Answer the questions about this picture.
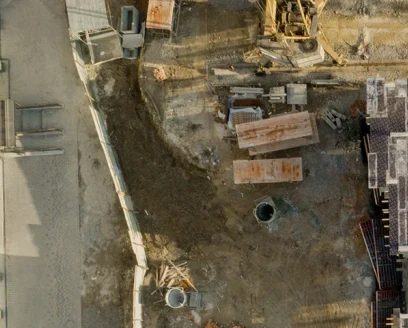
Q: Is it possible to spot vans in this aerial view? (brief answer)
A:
No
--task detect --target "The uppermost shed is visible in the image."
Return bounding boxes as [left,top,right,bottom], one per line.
[69,0,124,41]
